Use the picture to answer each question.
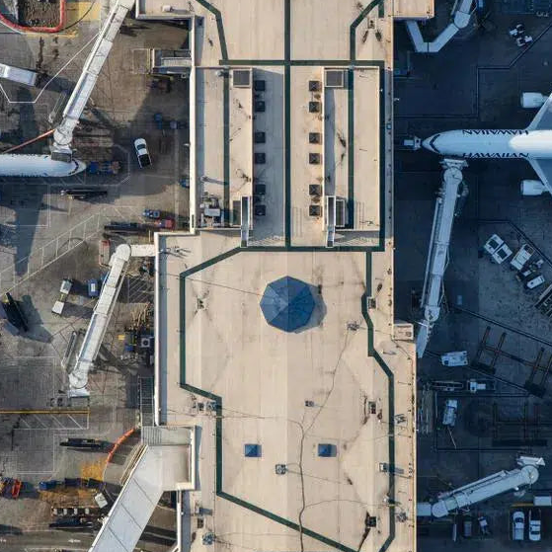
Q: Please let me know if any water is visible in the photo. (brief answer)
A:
No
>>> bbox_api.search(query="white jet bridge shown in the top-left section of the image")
[51,0,130,163]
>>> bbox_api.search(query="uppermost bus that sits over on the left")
[0,62,41,87]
